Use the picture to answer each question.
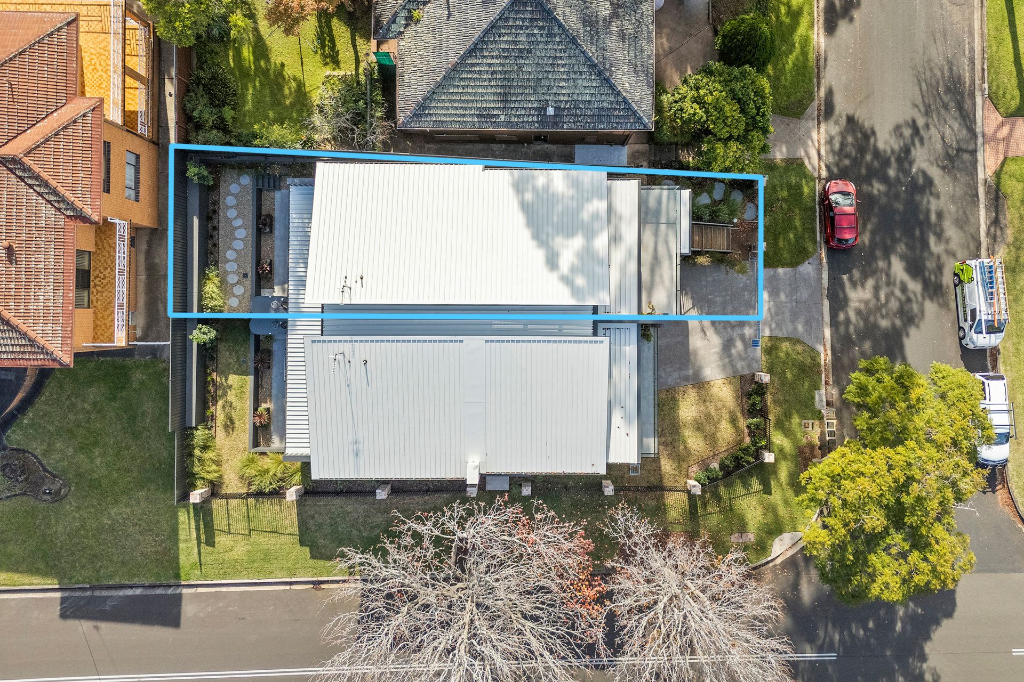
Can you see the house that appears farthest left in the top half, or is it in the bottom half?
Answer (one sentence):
The house that appears farthest left is in the top half of the image.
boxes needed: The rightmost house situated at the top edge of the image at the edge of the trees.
[371,0,657,141]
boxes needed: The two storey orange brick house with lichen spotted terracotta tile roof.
[0,0,161,369]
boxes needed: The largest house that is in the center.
[283,160,664,485]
